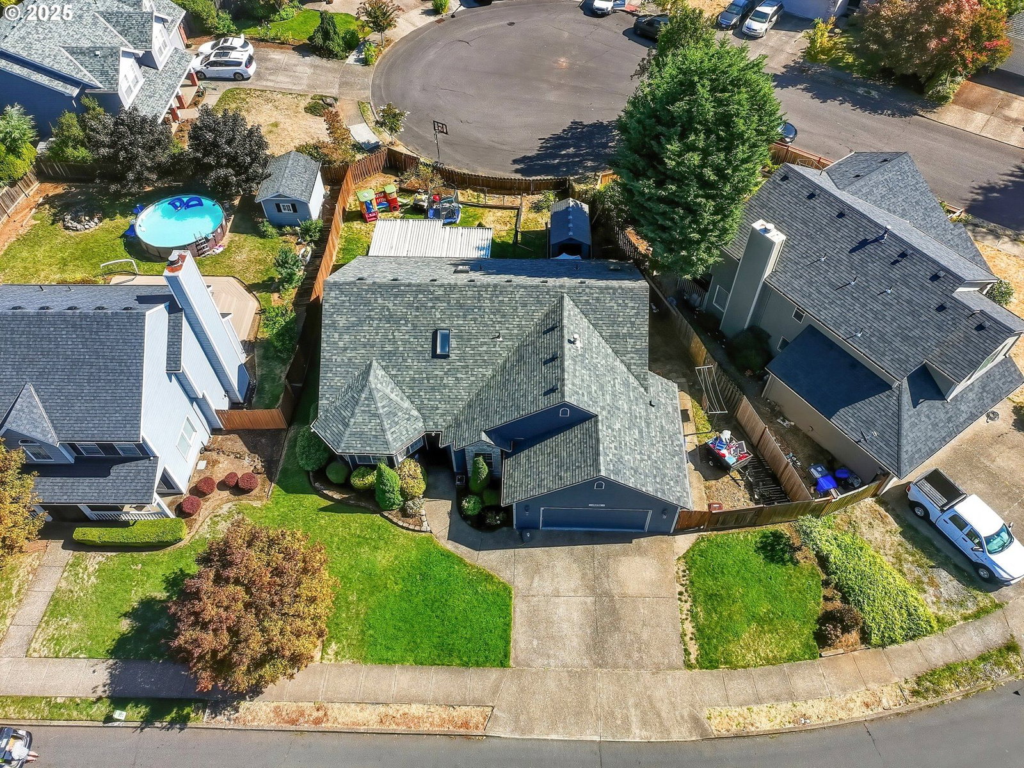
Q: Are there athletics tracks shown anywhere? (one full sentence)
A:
No, the photo shows no athletics track.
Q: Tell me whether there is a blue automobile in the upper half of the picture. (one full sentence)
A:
Yes, a blue automobile appears in the upper half of the picture.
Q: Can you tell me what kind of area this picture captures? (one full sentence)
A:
The area seen from above is a residential area.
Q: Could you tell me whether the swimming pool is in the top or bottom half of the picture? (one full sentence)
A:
The swimming pool sits in the top half of the picture.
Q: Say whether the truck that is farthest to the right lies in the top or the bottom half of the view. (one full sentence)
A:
The truck that is farthest to the right sits in the bottom half of the picture.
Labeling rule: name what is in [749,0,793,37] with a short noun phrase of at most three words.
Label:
car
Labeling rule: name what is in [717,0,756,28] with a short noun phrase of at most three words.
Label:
car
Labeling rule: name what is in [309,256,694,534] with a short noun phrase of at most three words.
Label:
house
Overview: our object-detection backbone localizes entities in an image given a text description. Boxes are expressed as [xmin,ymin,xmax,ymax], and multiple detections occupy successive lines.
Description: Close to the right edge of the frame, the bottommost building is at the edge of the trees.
[702,151,1024,487]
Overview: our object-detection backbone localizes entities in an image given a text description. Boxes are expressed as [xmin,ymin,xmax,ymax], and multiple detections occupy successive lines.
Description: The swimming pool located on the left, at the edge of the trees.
[135,193,231,260]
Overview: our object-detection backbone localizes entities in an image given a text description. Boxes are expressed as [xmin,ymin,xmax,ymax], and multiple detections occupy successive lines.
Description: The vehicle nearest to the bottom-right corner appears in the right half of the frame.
[907,470,1024,590]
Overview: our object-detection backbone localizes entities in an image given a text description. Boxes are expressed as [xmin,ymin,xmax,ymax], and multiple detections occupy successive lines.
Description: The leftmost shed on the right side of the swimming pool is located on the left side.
[256,153,324,225]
